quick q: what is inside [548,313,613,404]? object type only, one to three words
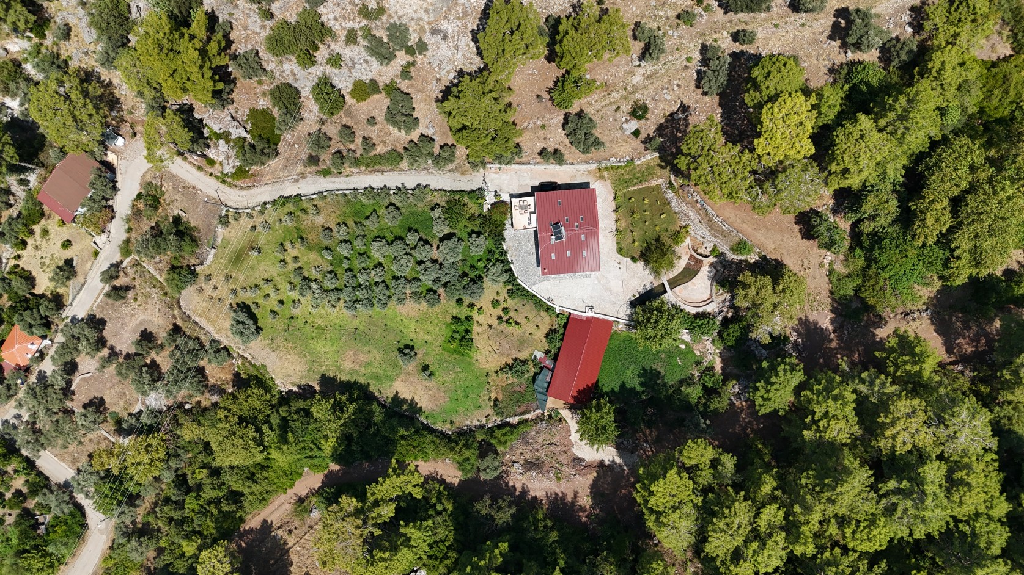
barn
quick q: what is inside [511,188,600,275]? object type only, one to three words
house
